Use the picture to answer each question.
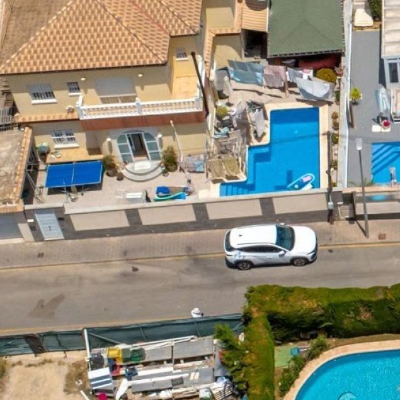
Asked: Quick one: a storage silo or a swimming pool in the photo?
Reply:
swimming pool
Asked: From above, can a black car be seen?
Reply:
No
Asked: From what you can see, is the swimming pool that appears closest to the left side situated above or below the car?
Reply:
above it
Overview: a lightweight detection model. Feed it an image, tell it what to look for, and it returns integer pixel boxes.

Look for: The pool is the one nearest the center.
[212,103,327,202]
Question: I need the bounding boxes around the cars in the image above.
[222,221,319,273]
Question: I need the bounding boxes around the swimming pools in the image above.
[282,339,400,400]
[372,142,400,183]
[212,103,327,202]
